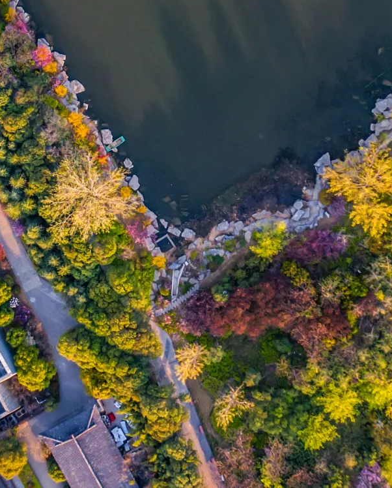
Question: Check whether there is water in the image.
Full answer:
Yes, water shows up in the scene.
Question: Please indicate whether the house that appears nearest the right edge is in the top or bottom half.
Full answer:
You can find the house that appears nearest the right edge in the bottom half.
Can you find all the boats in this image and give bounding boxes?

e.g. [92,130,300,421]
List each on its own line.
[109,136,126,149]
